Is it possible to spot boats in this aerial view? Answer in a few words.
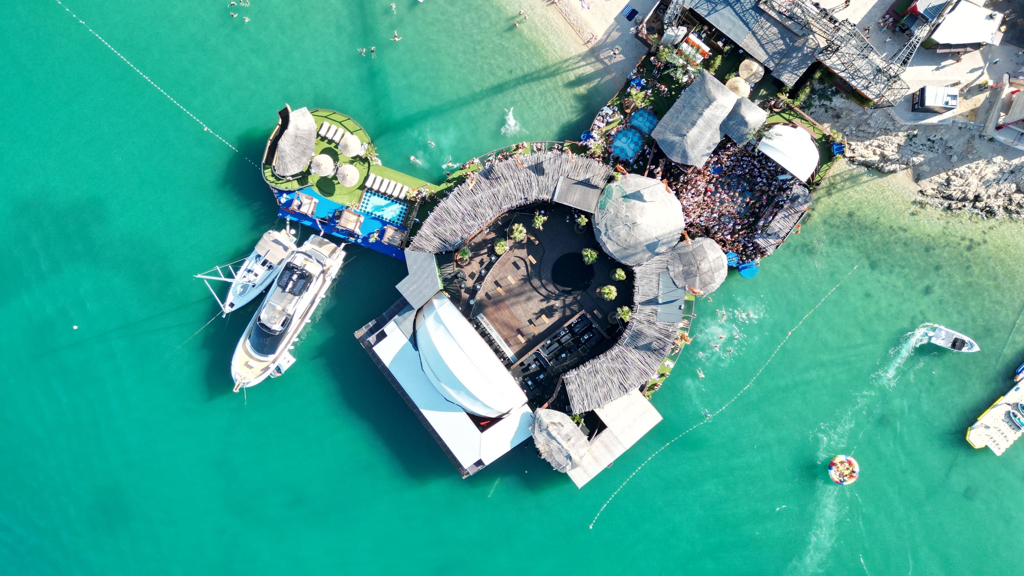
Yes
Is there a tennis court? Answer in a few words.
No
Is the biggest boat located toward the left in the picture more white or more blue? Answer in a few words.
white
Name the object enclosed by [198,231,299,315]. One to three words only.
boat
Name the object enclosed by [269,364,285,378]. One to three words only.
boat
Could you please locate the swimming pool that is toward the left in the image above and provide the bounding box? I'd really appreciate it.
[357,186,412,227]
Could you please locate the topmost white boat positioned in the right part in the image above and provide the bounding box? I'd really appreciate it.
[928,327,981,352]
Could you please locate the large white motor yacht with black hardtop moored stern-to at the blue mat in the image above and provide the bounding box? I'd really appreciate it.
[229,231,350,398]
